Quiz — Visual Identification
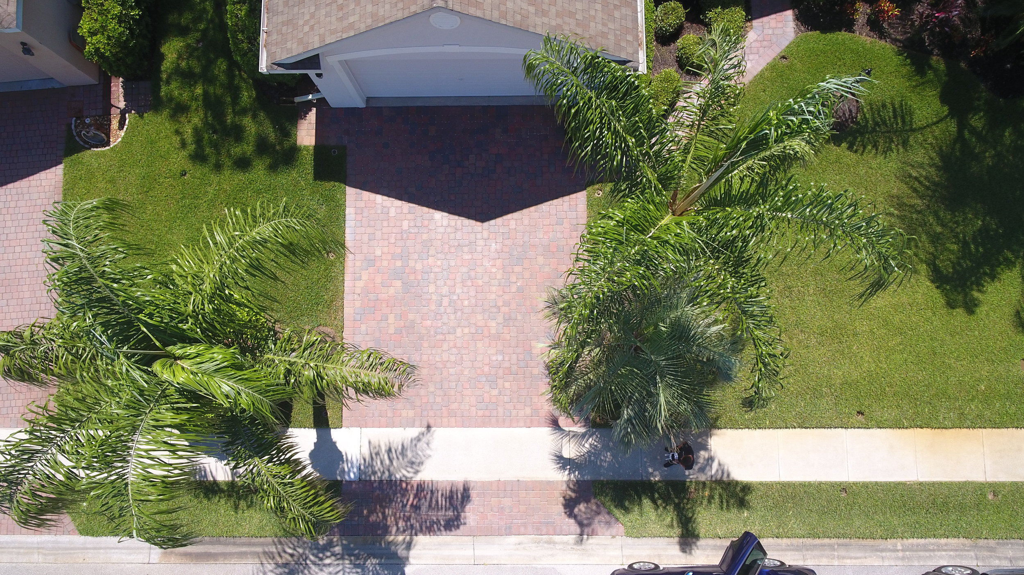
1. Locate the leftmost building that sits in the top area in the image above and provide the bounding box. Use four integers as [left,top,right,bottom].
[0,0,99,89]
